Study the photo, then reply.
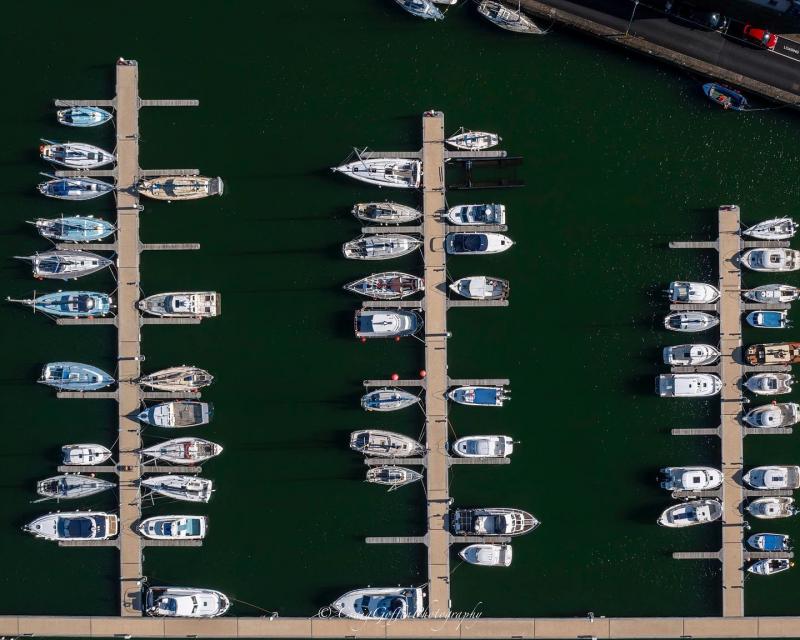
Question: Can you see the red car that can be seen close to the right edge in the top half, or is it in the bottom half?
top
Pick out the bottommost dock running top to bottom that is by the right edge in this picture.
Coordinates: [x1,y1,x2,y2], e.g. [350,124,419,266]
[670,206,793,617]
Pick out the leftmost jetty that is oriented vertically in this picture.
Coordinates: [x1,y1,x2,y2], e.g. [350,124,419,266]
[55,59,203,616]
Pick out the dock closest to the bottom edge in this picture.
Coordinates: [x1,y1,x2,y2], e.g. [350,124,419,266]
[0,615,800,640]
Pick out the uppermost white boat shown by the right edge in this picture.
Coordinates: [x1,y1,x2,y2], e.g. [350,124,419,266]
[741,219,798,243]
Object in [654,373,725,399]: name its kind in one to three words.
boat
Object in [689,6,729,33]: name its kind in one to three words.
car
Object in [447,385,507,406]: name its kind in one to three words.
boat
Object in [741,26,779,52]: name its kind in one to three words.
car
